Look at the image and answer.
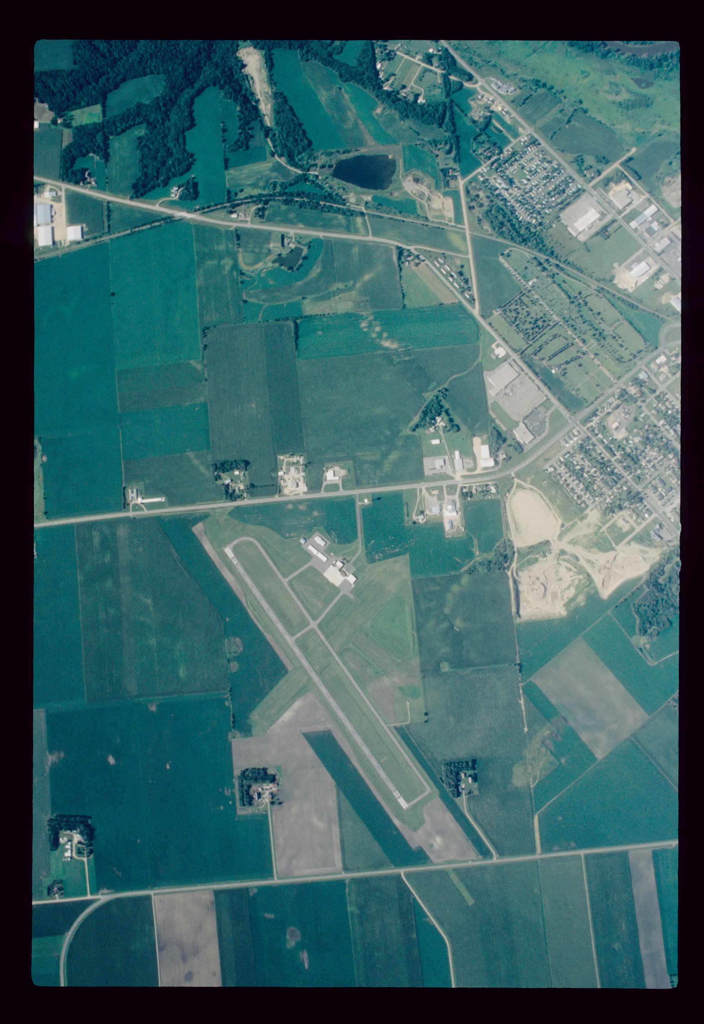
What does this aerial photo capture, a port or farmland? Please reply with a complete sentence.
This image shows farmland.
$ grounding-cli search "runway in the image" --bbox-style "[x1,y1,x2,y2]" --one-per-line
[223,546,408,810]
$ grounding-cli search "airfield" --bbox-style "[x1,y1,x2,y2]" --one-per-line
[192,508,439,832]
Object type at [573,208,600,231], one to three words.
building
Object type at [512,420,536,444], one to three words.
building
